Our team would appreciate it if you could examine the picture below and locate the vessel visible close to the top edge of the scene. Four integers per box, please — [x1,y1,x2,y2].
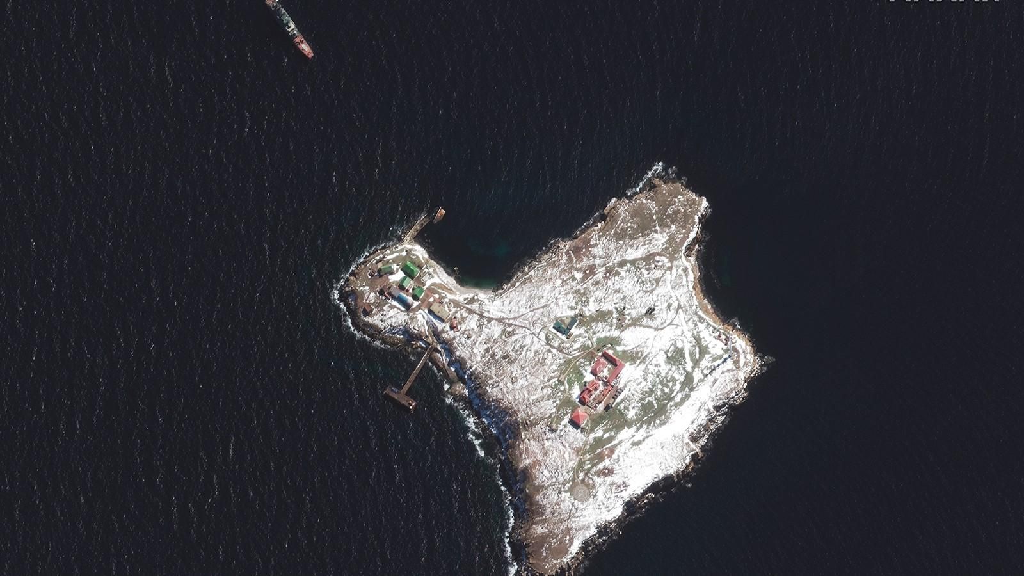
[268,0,313,57]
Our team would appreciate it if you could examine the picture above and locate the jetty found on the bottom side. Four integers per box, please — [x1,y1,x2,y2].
[384,345,434,411]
